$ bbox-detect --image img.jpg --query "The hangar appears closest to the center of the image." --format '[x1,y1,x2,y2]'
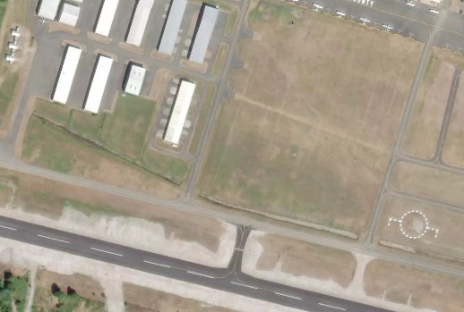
[164,82,195,143]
